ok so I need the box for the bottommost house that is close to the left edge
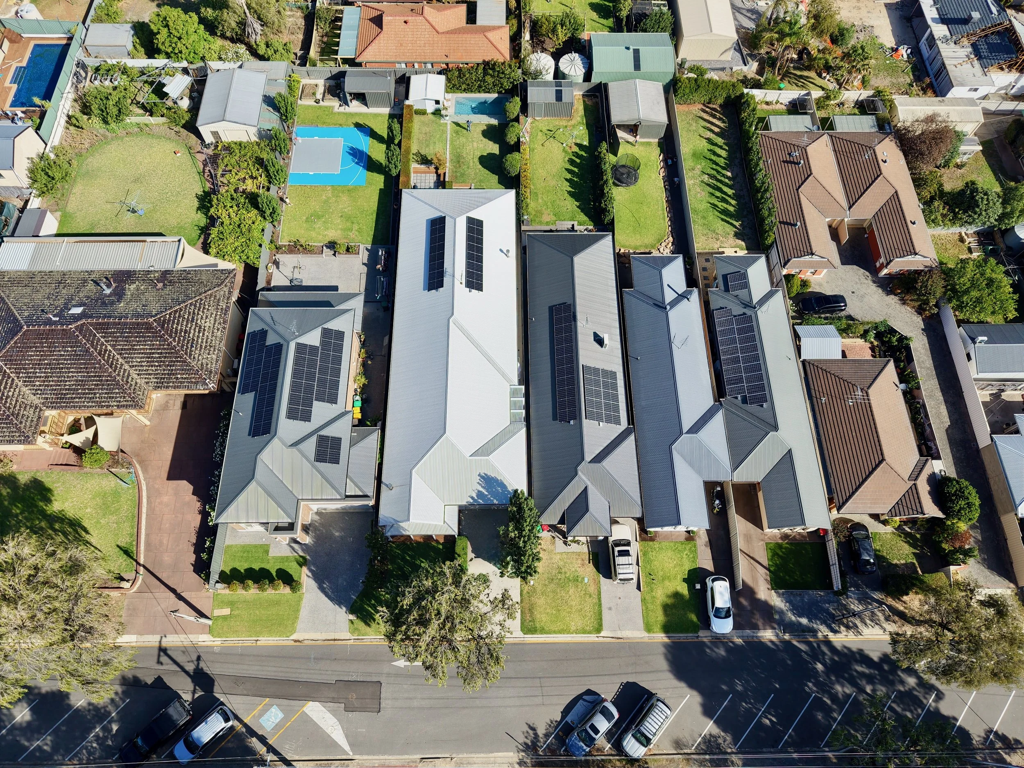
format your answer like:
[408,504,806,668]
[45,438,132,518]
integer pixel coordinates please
[0,267,241,450]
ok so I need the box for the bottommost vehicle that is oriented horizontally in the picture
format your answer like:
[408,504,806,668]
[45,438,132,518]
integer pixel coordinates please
[795,291,848,316]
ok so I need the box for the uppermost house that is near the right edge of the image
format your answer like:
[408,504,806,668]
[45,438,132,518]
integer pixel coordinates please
[912,0,1024,99]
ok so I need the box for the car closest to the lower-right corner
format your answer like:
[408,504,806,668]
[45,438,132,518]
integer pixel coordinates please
[842,519,883,578]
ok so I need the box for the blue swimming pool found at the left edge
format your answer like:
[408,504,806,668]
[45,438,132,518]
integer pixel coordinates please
[4,41,72,110]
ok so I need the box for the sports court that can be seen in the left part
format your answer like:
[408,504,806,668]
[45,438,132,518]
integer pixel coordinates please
[288,127,370,185]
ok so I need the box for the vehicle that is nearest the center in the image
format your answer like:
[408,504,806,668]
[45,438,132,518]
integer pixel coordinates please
[609,523,638,584]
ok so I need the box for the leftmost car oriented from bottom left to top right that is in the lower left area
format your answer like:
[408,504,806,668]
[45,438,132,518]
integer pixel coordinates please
[121,701,195,768]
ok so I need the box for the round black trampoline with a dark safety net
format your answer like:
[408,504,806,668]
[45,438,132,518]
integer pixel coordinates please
[611,151,645,194]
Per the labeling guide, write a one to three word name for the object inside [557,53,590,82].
water tank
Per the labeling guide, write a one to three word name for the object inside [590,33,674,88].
shed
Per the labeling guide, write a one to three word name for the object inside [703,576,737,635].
car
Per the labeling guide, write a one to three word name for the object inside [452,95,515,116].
swimming pool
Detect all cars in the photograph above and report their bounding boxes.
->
[703,576,737,635]
[622,691,673,764]
[842,519,883,578]
[568,695,617,761]
[121,701,195,768]
[168,700,231,765]
[795,291,848,316]
[609,523,638,584]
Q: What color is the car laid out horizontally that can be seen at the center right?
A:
black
